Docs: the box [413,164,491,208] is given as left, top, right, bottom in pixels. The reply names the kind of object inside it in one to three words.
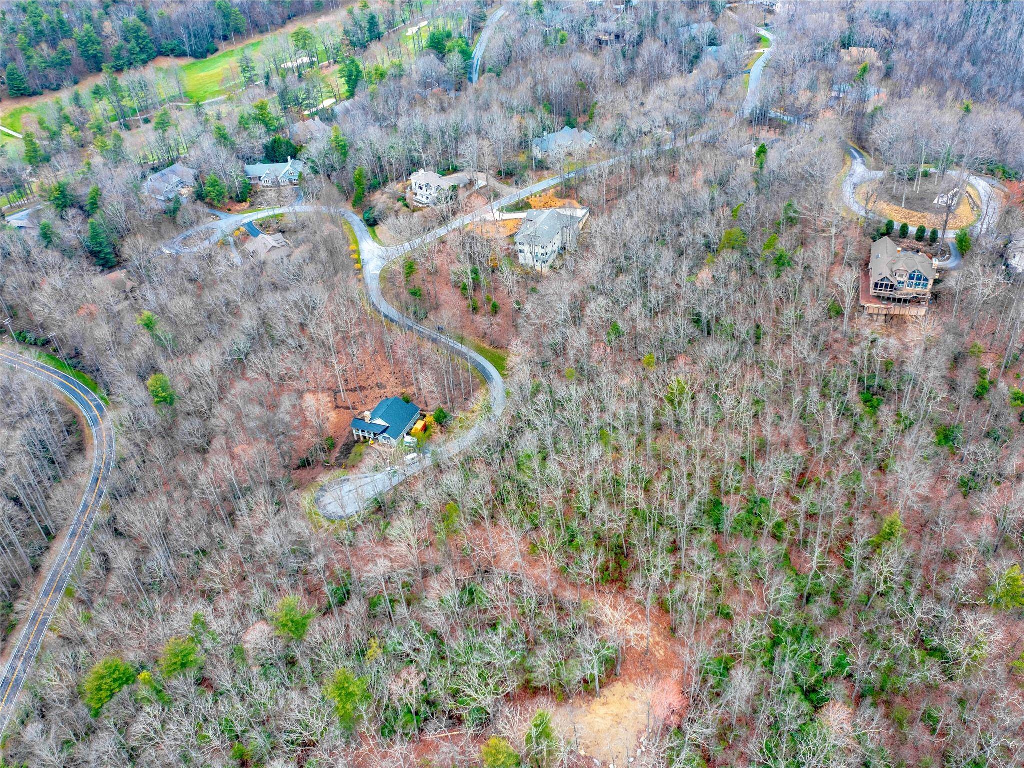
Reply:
house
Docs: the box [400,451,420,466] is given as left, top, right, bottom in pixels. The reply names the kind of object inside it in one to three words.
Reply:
vehicle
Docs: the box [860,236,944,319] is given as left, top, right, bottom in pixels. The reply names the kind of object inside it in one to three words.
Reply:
house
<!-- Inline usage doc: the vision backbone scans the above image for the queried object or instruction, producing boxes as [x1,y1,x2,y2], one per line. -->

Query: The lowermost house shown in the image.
[346,394,423,448]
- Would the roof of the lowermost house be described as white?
No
